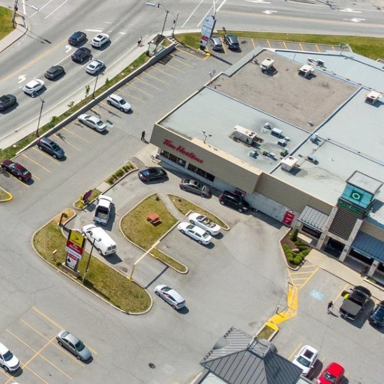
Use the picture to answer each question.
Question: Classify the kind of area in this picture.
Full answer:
It's a parking lot.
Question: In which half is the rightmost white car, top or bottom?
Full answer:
It is in the bottom half that the rightmost white car appears.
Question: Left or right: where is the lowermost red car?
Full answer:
It is on the right.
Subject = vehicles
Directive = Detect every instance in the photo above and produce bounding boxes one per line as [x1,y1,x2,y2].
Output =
[176,178,215,200]
[76,112,106,134]
[81,224,119,259]
[83,60,106,76]
[93,193,114,227]
[0,339,25,376]
[1,159,32,182]
[151,283,191,312]
[36,135,67,160]
[106,93,132,112]
[367,299,384,329]
[134,167,172,182]
[89,32,111,48]
[215,190,254,215]
[336,285,372,321]
[185,211,224,237]
[20,80,47,97]
[316,361,347,384]
[67,31,88,47]
[175,221,216,248]
[0,95,18,111]
[52,328,97,365]
[293,342,322,379]
[223,31,240,50]
[69,47,92,63]
[43,64,67,81]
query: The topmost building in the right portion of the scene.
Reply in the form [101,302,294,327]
[148,48,384,271]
